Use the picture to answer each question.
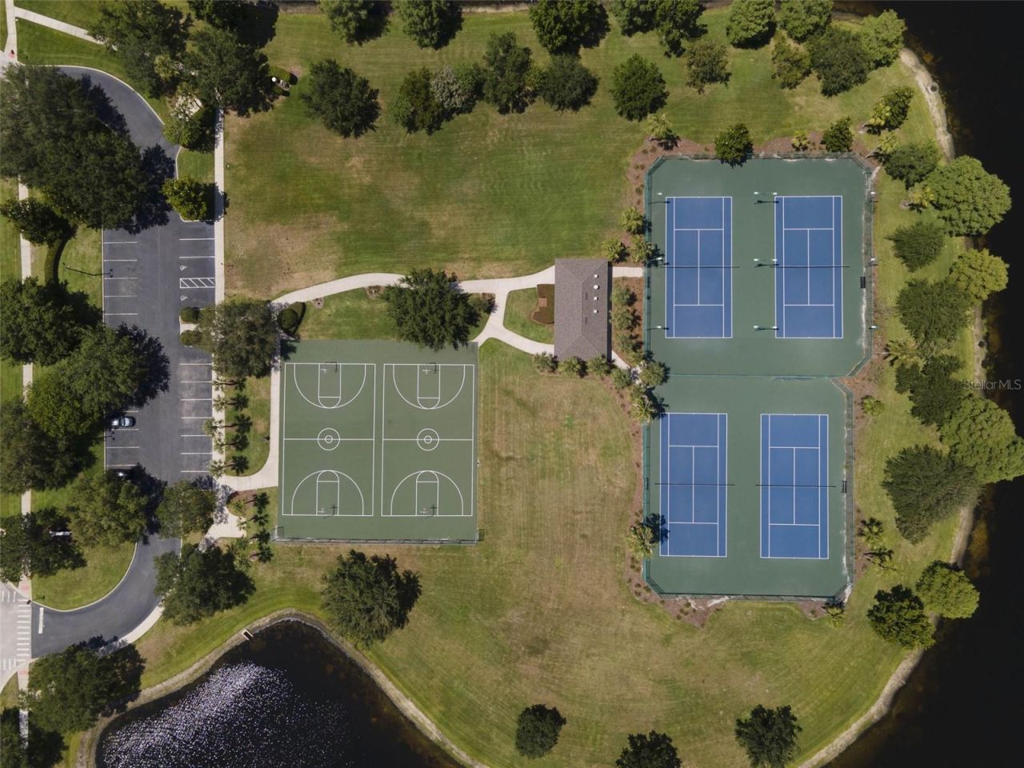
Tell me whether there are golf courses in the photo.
No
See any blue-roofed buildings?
No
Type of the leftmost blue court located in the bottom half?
tennis court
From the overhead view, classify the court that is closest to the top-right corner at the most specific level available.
tennis court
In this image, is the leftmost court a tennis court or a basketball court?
basketball court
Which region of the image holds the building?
center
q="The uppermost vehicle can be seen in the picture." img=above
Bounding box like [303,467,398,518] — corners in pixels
[109,416,136,428]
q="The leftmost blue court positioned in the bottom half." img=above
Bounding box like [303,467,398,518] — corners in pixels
[655,413,734,557]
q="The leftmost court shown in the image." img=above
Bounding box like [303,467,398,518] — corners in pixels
[282,363,376,516]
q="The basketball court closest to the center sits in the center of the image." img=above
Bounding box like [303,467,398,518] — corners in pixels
[381,364,474,517]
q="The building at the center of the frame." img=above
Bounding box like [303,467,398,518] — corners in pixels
[555,259,608,359]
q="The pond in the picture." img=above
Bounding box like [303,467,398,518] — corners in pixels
[97,619,467,768]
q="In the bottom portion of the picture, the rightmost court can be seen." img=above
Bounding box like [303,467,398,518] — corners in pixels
[756,414,837,559]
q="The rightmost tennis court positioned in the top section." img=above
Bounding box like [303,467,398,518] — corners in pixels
[770,196,850,338]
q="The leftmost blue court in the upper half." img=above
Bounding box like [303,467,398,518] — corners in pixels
[661,196,739,338]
